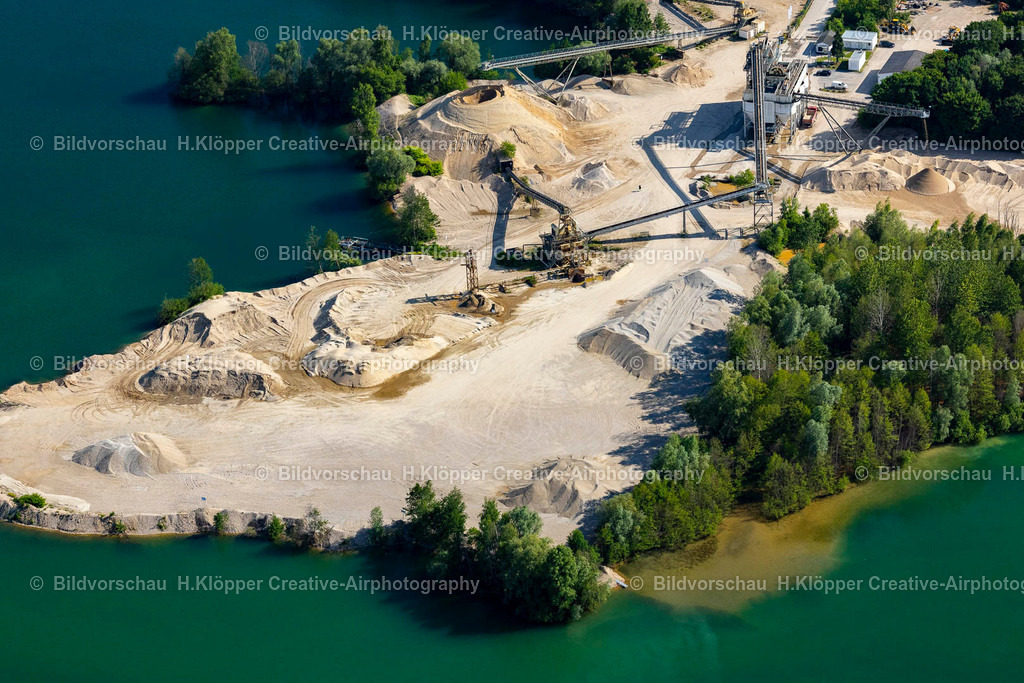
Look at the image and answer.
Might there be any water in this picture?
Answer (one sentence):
Yes, there is water in the image.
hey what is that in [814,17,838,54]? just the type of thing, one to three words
building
